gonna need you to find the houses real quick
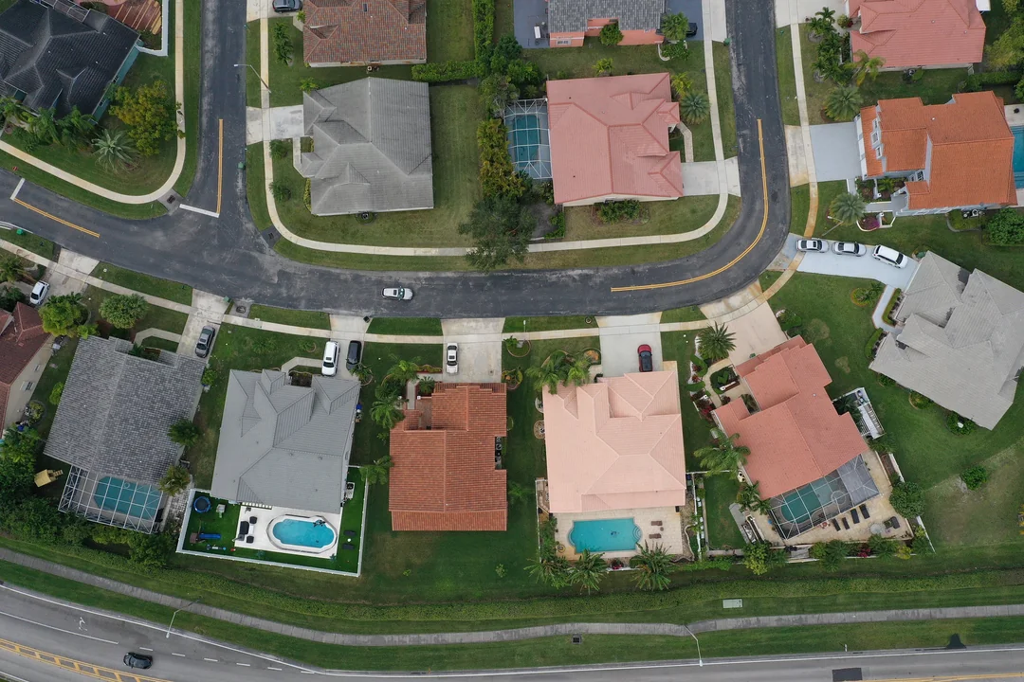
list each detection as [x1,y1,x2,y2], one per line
[547,72,684,205]
[846,0,986,71]
[0,0,143,126]
[43,336,210,487]
[0,302,54,440]
[542,371,686,512]
[714,335,869,500]
[301,76,434,216]
[388,382,507,531]
[548,0,662,42]
[211,369,361,514]
[303,0,427,68]
[864,251,1024,430]
[855,91,1018,216]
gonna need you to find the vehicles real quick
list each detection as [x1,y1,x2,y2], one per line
[797,238,828,252]
[444,343,458,374]
[195,325,216,358]
[381,286,414,301]
[833,242,865,256]
[872,244,907,267]
[345,341,362,370]
[122,651,155,669]
[270,0,301,12]
[638,344,652,372]
[321,341,339,376]
[29,278,51,307]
